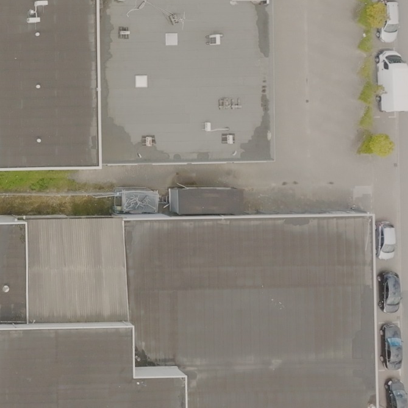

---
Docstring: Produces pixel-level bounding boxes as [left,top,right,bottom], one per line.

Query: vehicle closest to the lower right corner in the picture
[384,377,408,408]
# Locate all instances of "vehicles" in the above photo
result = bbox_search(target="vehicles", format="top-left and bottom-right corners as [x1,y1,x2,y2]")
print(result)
[384,377,408,408]
[375,0,400,42]
[377,323,402,370]
[376,270,401,313]
[378,53,408,110]
[374,221,397,258]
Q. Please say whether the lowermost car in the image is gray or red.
gray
